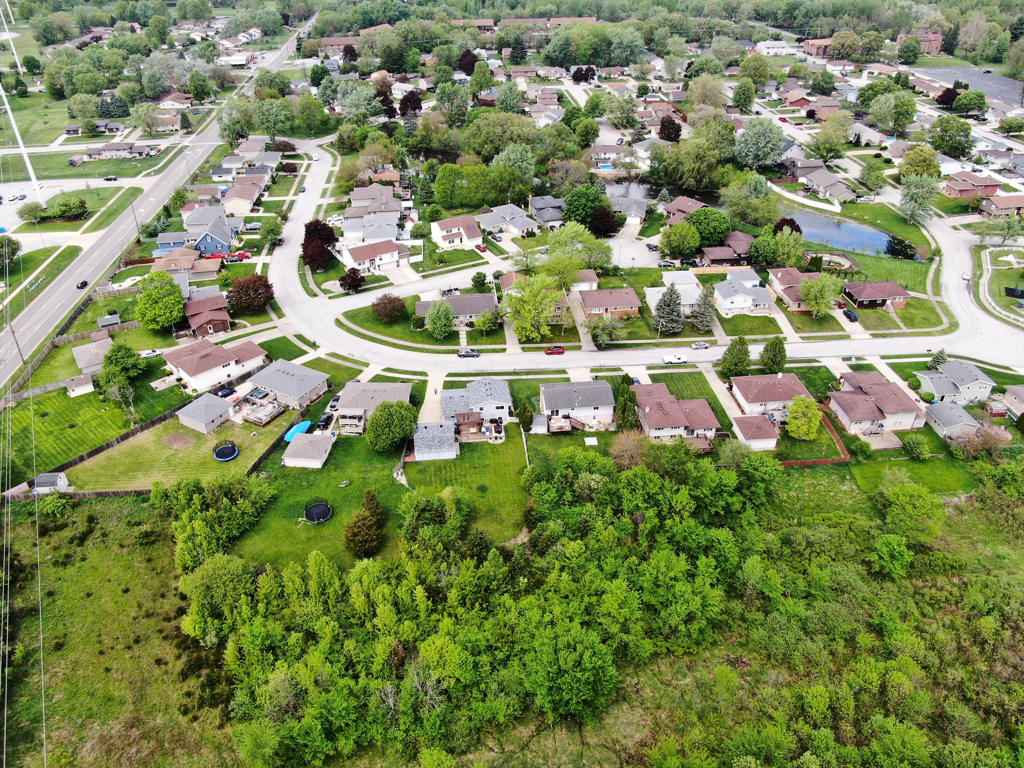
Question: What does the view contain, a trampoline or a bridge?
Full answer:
Looking from above, you can make out a trampoline.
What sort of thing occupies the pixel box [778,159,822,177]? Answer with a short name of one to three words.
house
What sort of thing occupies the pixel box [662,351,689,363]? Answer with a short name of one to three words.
vehicle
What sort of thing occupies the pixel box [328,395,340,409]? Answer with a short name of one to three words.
vehicle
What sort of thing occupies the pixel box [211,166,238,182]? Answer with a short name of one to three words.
building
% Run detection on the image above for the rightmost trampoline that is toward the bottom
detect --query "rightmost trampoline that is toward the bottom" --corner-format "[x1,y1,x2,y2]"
[303,496,332,525]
